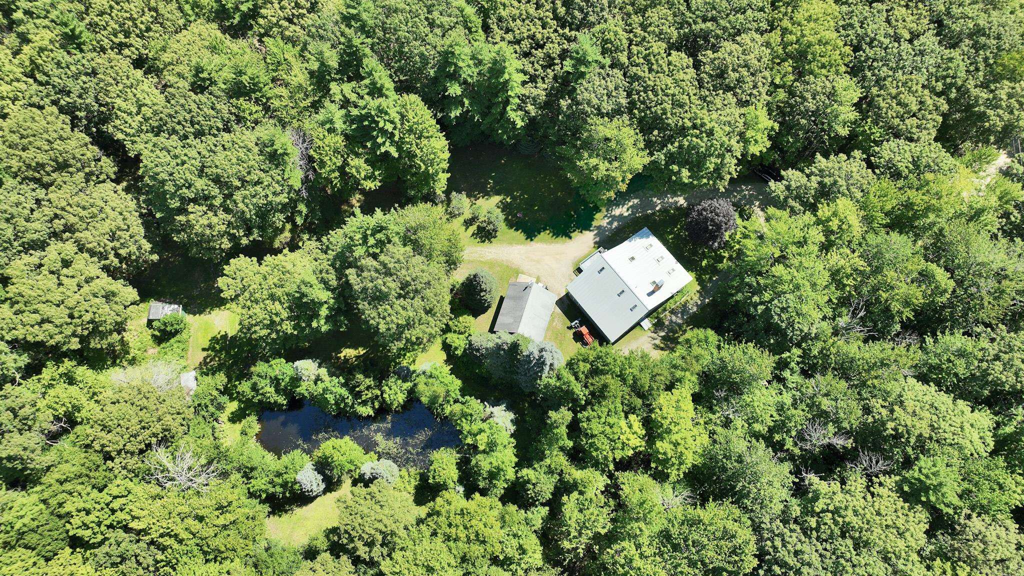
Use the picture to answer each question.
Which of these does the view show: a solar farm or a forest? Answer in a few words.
forest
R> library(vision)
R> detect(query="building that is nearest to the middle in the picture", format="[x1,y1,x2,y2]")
[494,282,557,342]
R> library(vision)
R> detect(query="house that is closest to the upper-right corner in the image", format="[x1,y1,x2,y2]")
[565,227,693,344]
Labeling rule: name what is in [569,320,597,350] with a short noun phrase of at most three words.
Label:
work vehicle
